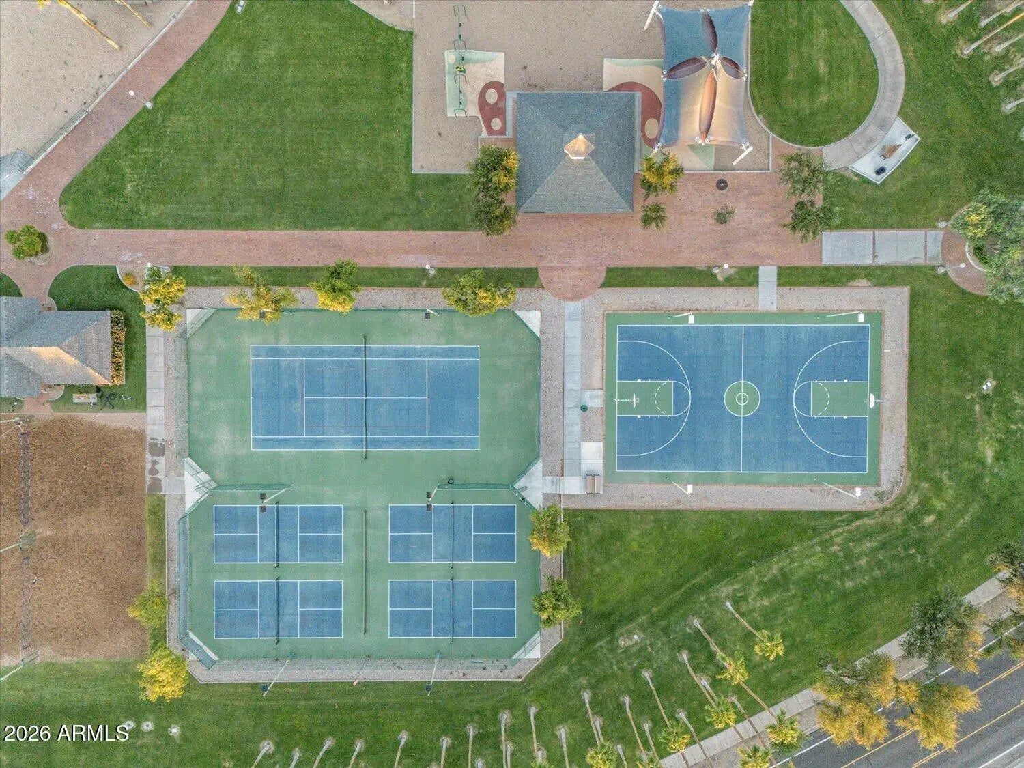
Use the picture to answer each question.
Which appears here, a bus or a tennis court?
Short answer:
tennis court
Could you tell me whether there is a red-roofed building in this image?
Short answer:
No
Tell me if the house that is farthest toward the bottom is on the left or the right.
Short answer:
left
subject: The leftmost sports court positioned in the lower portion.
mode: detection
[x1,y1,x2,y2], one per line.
[0,416,148,666]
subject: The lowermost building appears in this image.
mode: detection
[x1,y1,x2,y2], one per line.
[0,295,121,398]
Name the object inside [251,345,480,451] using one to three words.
tennis court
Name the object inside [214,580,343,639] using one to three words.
sports court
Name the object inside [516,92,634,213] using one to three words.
building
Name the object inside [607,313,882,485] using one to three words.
basketball court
